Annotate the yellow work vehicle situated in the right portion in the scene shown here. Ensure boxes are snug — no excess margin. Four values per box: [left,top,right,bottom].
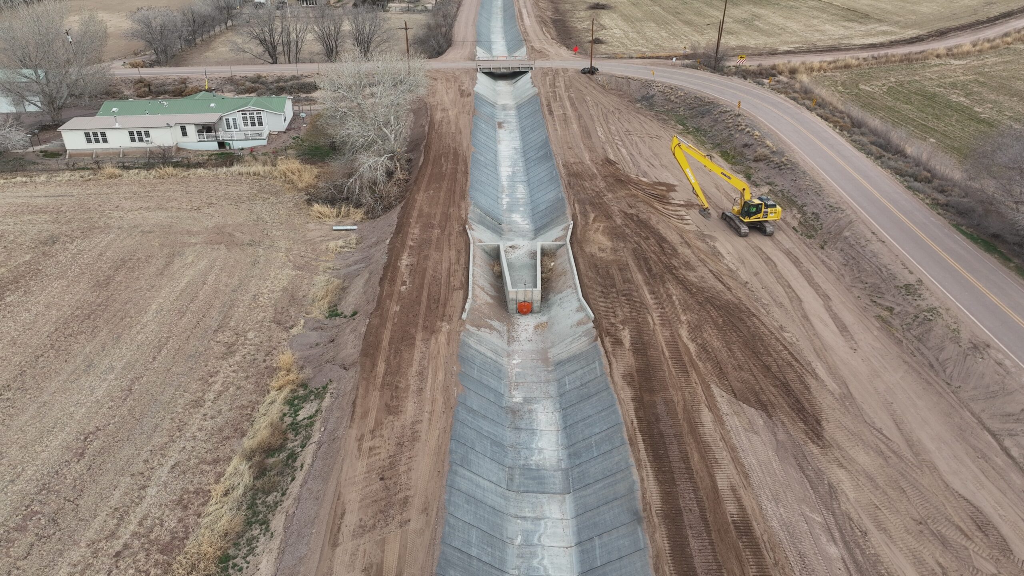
[669,134,783,237]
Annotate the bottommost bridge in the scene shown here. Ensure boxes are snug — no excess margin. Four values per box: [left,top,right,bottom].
[467,57,542,76]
